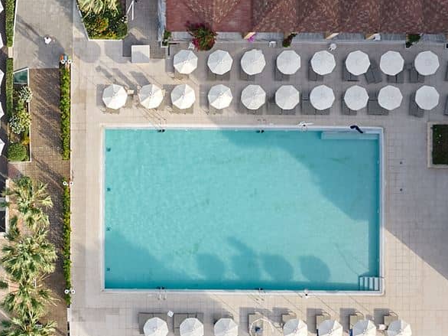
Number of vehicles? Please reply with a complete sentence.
There are no vehicles in the image.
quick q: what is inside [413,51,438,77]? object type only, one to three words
umbrella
